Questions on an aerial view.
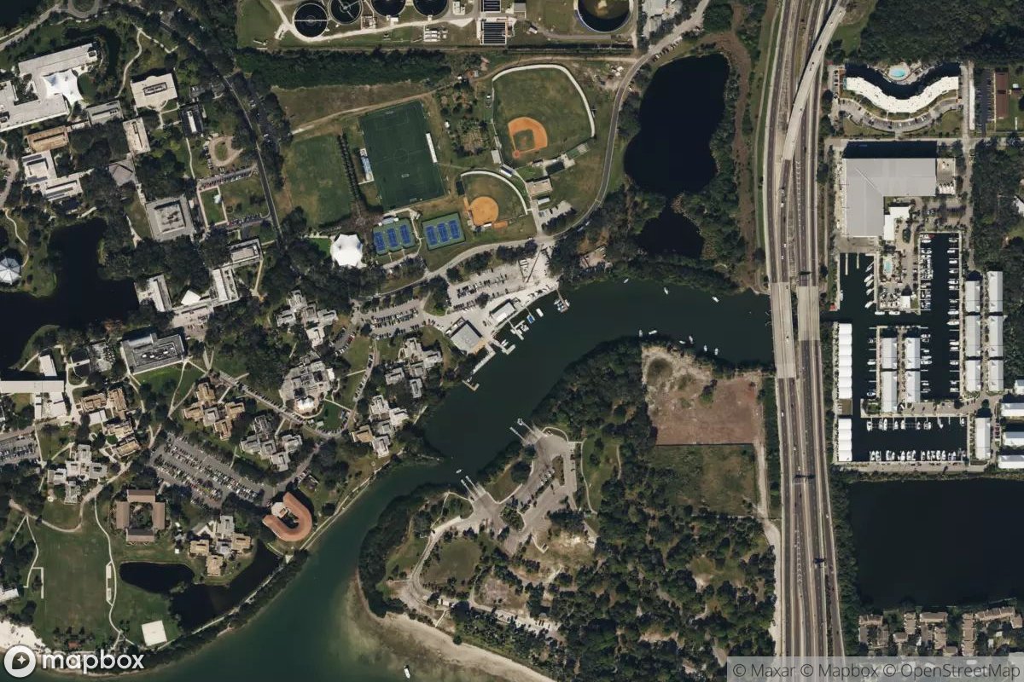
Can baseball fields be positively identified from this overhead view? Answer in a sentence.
Yes, there's a baseball field here.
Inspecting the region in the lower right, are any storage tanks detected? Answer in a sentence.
No, the scene shows no storage tank in the lower right.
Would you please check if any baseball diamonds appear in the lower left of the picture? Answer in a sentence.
No, there is no baseball diamond in the lower left of the picture.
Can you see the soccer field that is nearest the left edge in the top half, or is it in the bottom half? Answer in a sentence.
The top half of the photo is where the soccer field that is nearest the left edge is.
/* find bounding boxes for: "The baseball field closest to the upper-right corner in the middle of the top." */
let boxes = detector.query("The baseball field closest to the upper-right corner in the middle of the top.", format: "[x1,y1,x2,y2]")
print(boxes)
[492,64,595,163]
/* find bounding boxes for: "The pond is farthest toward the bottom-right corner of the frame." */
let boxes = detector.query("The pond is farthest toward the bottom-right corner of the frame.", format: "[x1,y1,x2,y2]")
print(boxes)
[848,478,1024,608]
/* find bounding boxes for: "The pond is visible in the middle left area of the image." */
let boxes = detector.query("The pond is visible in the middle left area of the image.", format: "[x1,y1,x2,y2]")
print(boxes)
[0,218,139,370]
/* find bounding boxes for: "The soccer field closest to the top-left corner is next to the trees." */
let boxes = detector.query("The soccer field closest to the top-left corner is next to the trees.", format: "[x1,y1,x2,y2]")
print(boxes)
[358,100,446,212]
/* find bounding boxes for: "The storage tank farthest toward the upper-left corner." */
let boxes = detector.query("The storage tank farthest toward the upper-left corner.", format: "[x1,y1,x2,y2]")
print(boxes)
[293,3,328,37]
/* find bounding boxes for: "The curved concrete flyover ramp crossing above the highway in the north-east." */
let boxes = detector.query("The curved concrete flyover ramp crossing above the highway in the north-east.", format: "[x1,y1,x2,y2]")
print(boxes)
[783,0,850,162]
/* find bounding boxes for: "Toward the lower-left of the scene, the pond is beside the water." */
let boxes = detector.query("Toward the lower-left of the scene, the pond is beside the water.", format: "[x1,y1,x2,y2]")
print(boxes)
[120,539,281,633]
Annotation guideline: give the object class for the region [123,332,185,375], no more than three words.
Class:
building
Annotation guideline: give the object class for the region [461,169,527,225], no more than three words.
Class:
baseball field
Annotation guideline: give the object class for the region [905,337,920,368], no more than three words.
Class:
house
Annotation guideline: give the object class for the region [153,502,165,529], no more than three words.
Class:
building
